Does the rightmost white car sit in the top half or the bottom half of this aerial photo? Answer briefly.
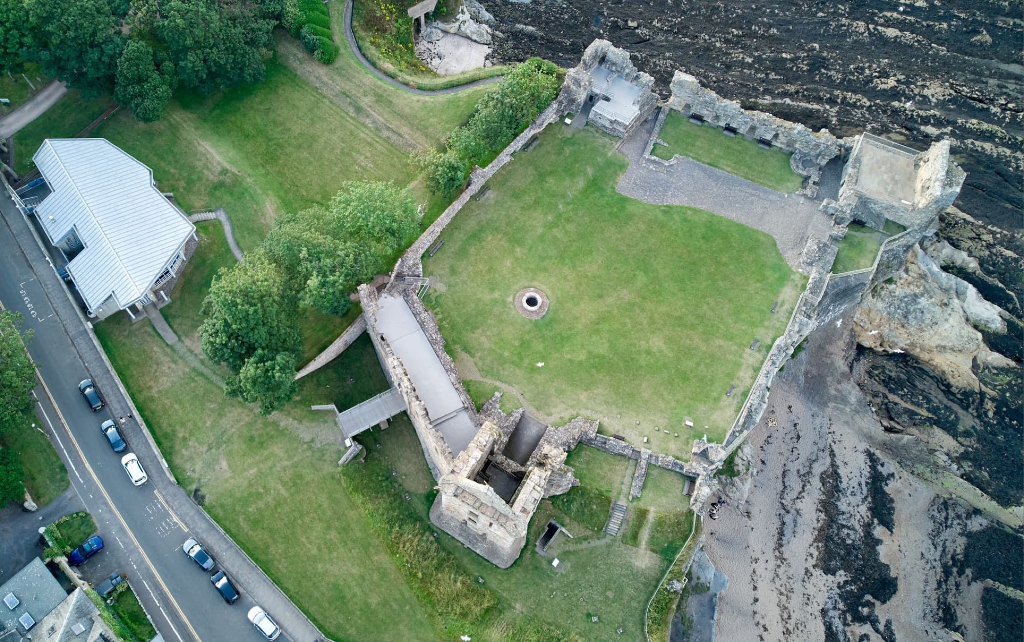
bottom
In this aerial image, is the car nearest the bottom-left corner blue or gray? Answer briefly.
blue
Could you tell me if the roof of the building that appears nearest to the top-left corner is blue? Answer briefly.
No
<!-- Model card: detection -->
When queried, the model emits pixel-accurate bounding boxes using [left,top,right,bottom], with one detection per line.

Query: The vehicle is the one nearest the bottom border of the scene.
[249,605,281,642]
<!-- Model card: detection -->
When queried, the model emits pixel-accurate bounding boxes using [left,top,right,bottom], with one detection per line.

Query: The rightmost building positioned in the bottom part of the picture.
[429,422,551,568]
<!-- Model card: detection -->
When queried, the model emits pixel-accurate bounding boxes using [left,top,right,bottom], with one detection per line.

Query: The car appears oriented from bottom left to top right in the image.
[69,533,106,567]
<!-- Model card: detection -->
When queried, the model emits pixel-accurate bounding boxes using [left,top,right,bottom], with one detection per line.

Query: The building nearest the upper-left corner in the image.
[32,137,204,325]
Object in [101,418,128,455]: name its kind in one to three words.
car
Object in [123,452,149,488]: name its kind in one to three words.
car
